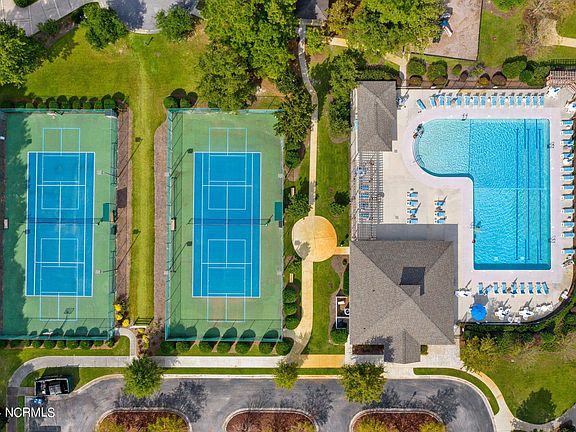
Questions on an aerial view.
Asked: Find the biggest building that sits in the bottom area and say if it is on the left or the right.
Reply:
right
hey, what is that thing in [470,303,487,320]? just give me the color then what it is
blue umbrella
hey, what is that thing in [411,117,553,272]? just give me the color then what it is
blue swimming pool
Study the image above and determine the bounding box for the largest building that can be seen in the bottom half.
[350,241,453,364]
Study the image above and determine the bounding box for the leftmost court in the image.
[1,111,119,338]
